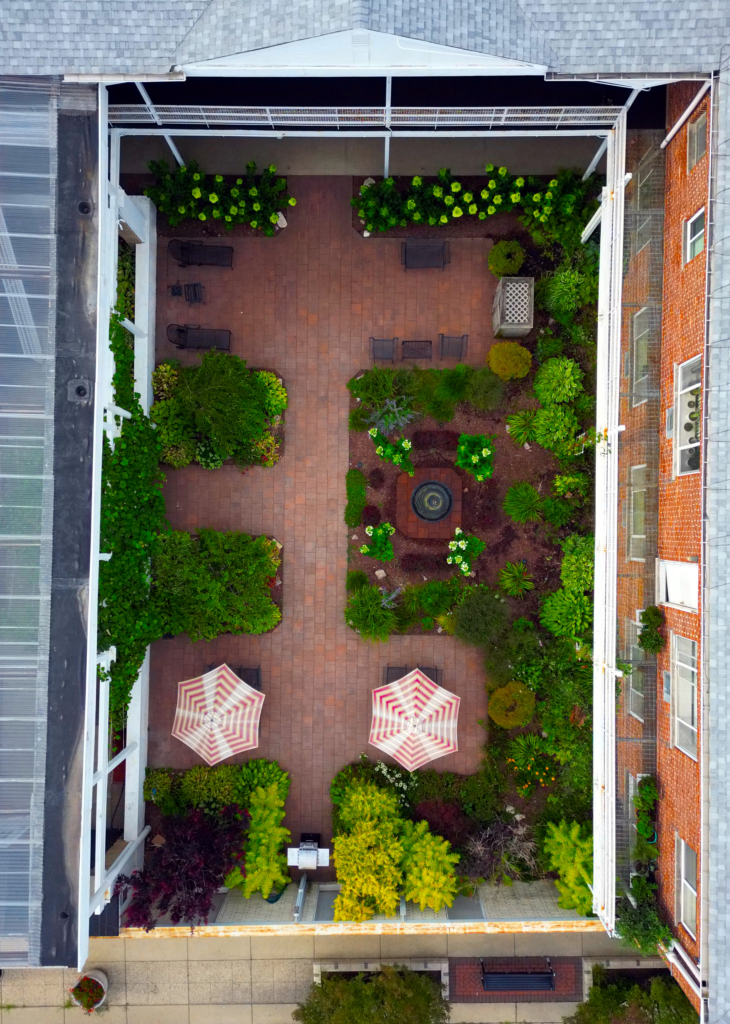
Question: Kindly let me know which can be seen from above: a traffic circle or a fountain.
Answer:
fountain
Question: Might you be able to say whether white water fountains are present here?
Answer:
No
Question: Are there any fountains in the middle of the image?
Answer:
Yes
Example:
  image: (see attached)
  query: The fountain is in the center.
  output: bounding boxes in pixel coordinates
[411,479,453,521]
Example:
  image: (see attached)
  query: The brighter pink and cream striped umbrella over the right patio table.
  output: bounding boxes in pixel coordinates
[368,669,462,773]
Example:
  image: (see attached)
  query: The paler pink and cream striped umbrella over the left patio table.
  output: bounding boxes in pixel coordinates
[170,662,267,766]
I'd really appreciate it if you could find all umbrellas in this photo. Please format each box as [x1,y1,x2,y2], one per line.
[170,662,267,766]
[368,669,462,773]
